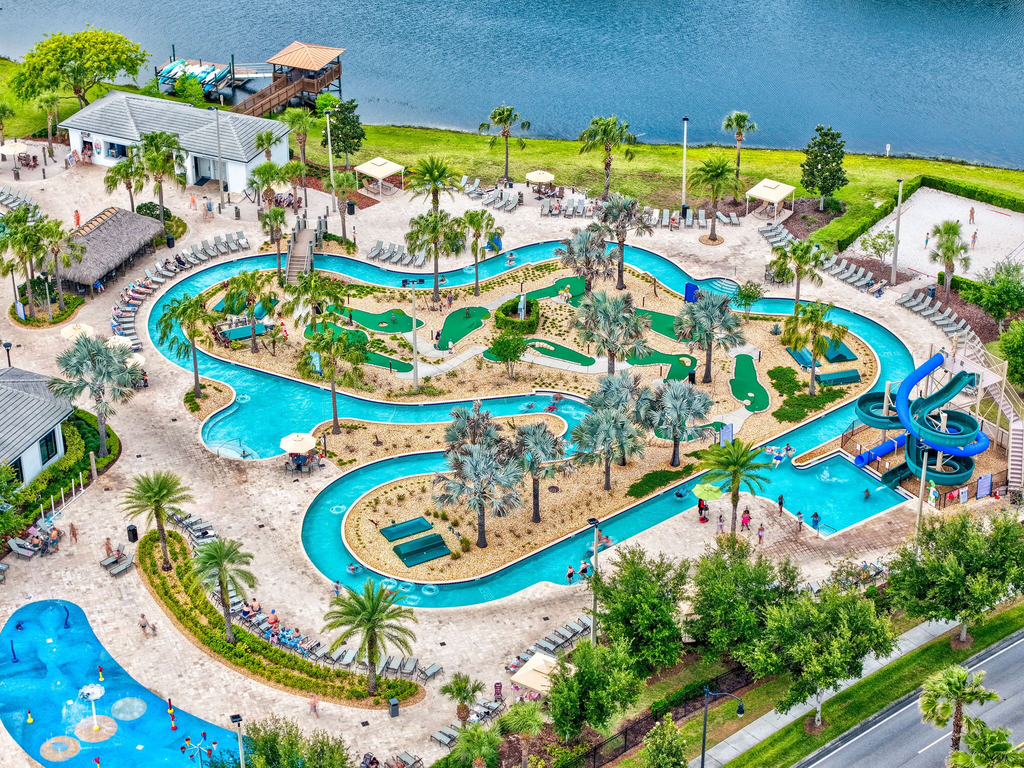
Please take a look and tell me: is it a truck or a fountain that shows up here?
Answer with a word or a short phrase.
fountain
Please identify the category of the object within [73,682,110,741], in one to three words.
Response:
fountain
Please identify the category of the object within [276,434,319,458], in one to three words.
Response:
umbrella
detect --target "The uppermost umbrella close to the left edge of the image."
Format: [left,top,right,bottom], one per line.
[0,140,31,172]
